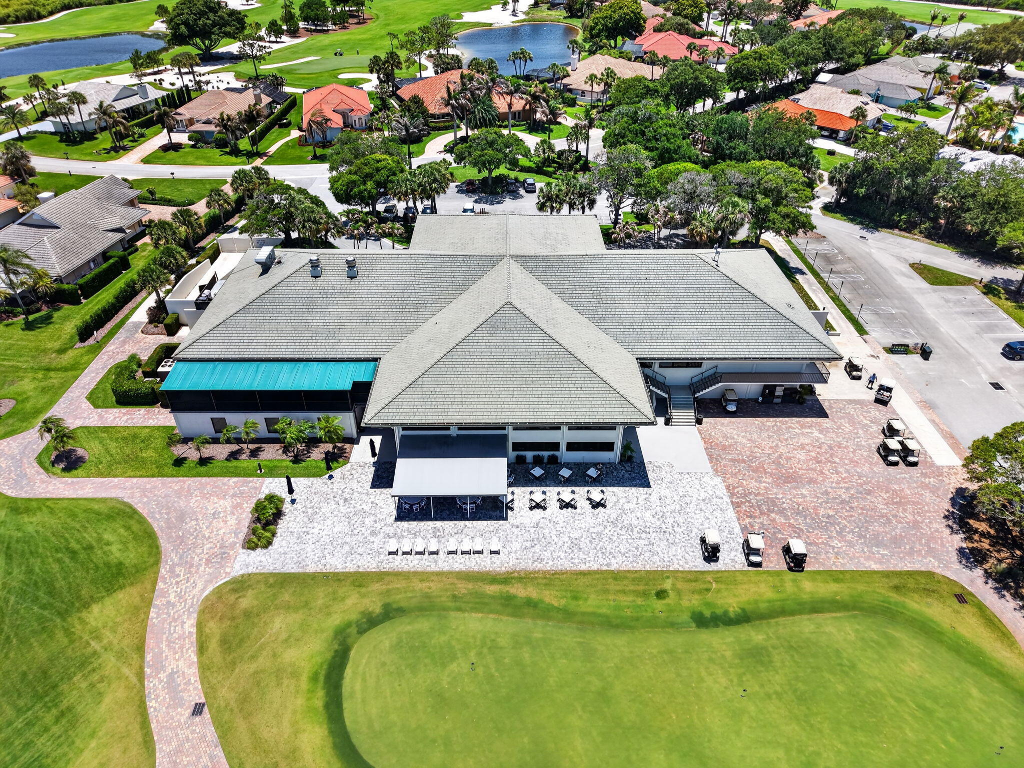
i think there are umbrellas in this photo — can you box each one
[285,475,296,502]
[324,452,333,478]
[370,439,379,464]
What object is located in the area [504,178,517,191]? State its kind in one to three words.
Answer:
vehicle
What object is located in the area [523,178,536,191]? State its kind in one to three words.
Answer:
vehicle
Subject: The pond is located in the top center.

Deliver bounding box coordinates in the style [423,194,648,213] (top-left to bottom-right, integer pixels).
[455,21,580,80]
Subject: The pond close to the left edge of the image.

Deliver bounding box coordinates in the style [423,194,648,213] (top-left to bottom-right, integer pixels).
[0,32,168,78]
